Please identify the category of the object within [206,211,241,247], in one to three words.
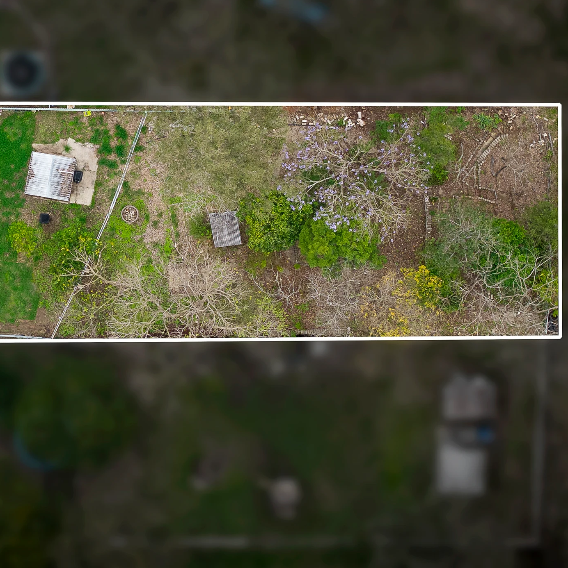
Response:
shed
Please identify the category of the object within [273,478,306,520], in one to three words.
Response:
house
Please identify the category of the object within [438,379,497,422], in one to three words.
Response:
shed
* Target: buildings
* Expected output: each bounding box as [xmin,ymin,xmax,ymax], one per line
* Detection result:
[273,478,306,520]
[206,211,241,247]
[430,443,485,496]
[438,379,497,422]
[25,151,76,201]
